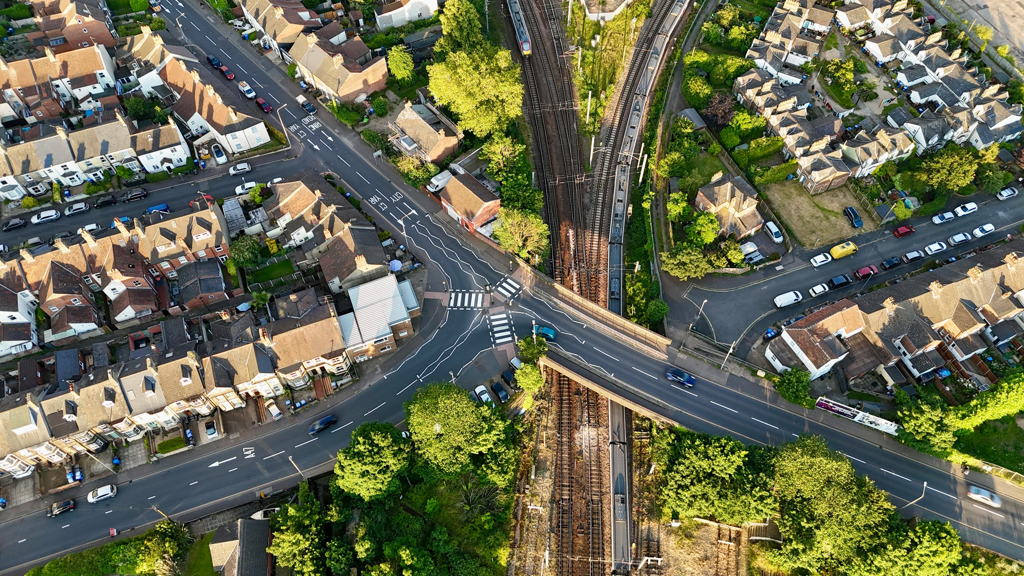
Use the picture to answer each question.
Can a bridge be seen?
Yes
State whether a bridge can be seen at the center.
Yes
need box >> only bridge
[505,250,692,433]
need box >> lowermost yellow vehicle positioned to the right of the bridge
[830,241,860,259]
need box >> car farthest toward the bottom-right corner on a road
[968,487,1001,508]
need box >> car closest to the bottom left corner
[47,497,76,518]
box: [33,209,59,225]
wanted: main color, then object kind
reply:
white car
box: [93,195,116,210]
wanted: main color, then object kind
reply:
black car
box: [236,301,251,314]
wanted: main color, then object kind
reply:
blue umbrella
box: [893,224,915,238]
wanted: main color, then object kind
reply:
red car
